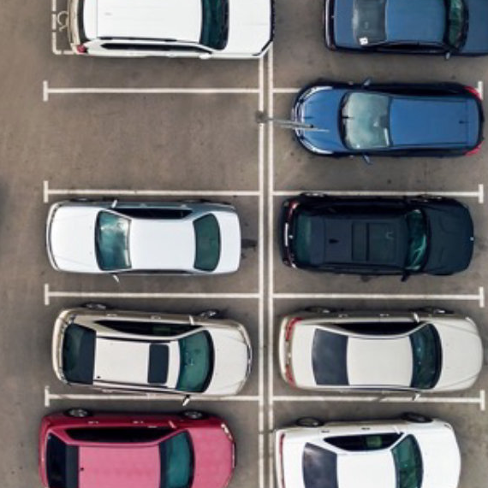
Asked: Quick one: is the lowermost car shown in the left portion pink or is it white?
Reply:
pink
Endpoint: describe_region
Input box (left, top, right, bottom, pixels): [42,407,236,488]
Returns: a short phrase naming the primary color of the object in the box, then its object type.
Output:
pink car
